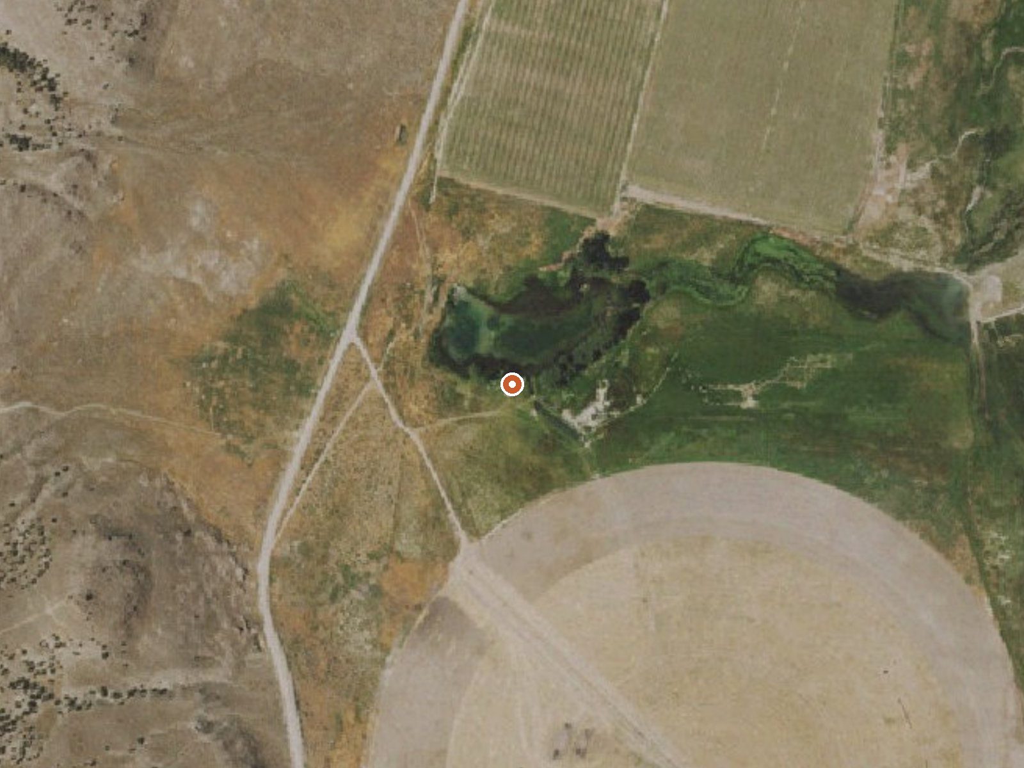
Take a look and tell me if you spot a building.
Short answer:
No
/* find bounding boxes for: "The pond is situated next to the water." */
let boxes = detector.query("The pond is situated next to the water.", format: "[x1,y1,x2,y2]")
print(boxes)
[431,275,648,382]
